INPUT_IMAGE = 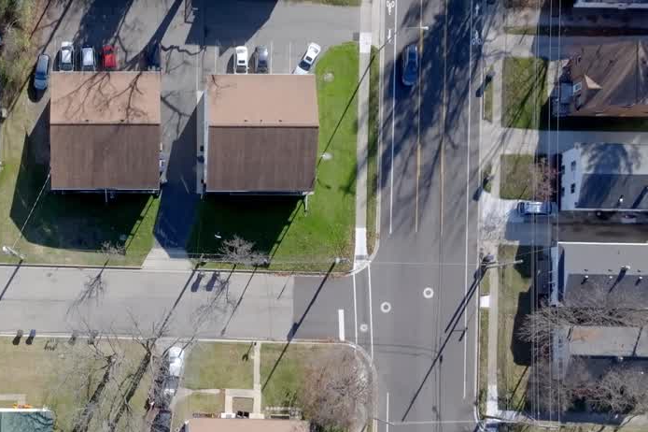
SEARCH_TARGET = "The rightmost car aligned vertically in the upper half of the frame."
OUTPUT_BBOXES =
[400,44,420,86]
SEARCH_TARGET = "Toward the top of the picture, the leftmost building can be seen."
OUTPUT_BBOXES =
[48,71,161,202]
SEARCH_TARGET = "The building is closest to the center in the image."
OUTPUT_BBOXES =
[204,74,322,203]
